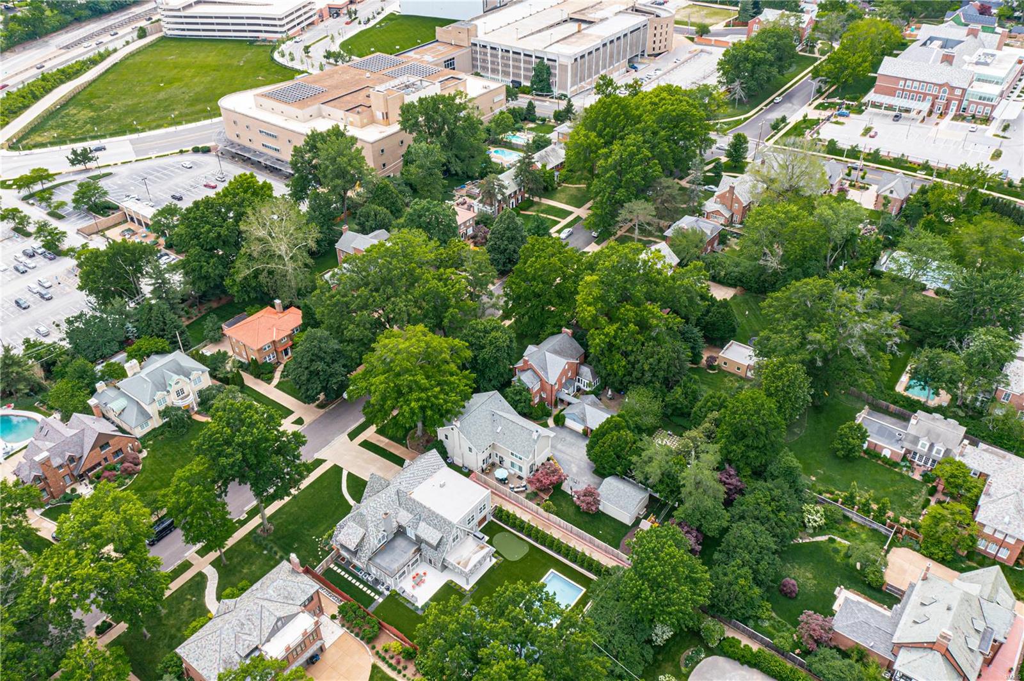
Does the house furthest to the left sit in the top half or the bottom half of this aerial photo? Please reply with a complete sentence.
Seen from above, the house furthest to the left lies in the bottom half of the view.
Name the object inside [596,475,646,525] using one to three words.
building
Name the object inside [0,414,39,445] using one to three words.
swimming pool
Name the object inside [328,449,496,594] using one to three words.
house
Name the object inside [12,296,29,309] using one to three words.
vehicle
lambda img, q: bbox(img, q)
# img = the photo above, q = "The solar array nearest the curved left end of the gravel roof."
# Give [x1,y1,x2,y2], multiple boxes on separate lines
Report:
[265,81,323,102]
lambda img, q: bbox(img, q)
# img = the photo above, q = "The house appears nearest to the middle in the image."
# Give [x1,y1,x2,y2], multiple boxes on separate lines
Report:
[512,327,600,408]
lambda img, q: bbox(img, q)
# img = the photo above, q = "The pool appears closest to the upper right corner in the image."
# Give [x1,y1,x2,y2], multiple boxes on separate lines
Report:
[877,250,957,291]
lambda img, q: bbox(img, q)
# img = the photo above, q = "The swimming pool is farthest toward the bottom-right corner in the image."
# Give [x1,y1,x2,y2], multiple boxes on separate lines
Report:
[895,369,952,407]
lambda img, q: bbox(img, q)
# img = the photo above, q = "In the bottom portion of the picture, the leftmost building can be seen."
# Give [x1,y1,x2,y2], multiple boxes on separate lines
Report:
[13,413,137,501]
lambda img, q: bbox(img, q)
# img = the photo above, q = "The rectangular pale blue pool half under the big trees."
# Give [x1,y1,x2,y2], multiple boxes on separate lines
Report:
[527,569,585,618]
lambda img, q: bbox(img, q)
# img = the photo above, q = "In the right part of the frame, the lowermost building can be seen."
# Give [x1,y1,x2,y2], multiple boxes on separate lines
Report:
[830,561,1016,681]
